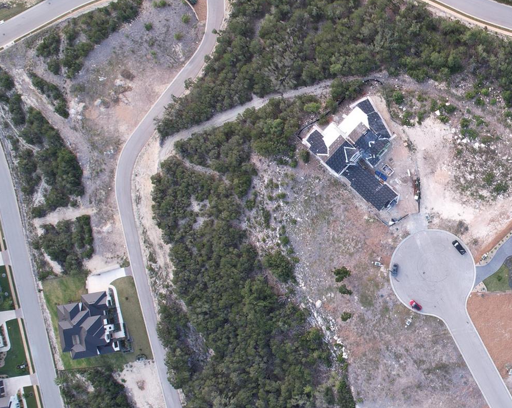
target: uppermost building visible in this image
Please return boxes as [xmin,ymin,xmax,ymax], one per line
[301,96,401,211]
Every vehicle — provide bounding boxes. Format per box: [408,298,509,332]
[451,239,466,256]
[408,300,424,313]
[391,262,399,277]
